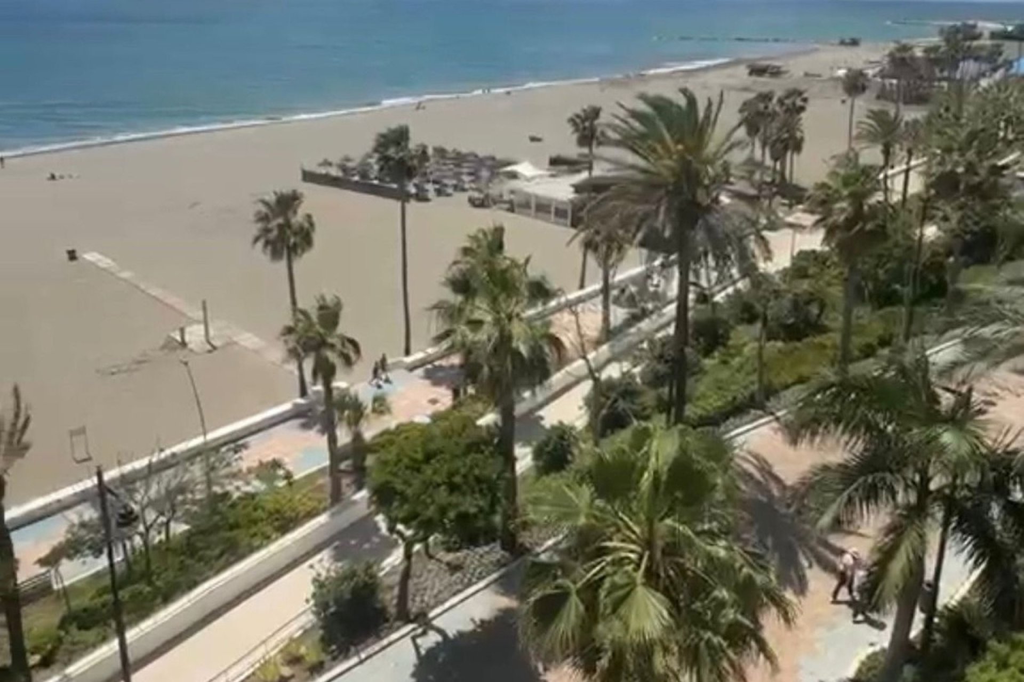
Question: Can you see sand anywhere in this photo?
Yes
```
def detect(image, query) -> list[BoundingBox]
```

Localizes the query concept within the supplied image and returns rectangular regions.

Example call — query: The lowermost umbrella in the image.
[779,211,816,246]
